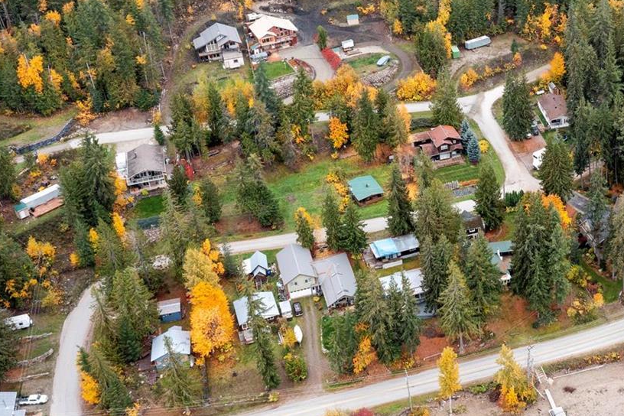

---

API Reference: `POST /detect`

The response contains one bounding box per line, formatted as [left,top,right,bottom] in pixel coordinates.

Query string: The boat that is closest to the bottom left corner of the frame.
[289,318,302,339]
